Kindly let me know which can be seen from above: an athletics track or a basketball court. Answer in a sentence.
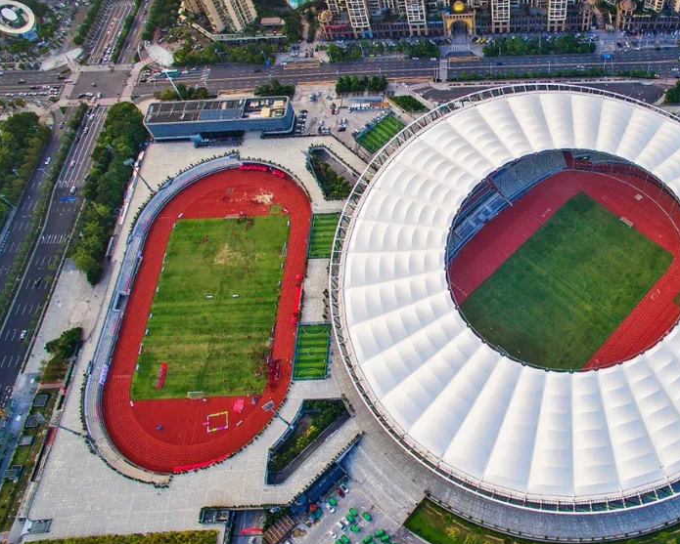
There is an athletics track in the scene.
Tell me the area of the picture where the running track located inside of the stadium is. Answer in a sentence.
The running track located inside of the stadium appears toward the right of the photo.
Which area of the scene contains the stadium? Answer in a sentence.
The stadium is in the right part of the image.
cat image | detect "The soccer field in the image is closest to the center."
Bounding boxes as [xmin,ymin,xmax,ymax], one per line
[304,210,341,259]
